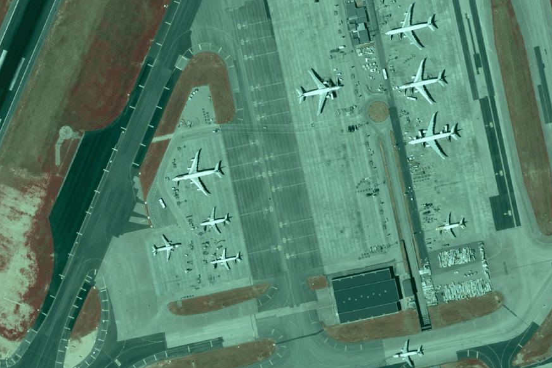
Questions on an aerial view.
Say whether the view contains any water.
No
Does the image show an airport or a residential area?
airport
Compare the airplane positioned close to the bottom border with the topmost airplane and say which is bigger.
the topmost airplane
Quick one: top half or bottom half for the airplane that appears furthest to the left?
bottom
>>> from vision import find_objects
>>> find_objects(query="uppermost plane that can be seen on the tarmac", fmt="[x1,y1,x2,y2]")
[385,1,438,50]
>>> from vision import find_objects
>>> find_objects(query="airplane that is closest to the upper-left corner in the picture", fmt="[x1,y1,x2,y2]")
[172,149,225,197]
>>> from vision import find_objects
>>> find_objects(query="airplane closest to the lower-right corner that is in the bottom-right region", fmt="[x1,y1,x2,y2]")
[394,339,425,366]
